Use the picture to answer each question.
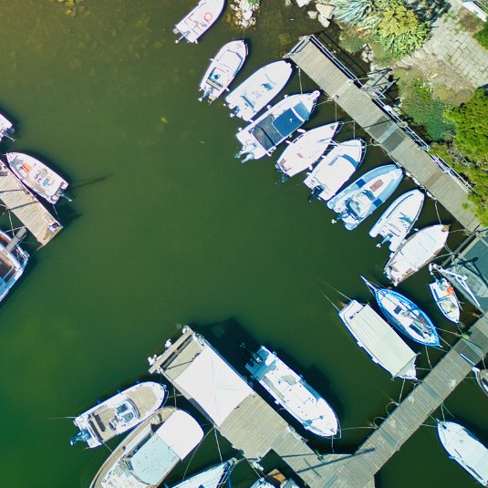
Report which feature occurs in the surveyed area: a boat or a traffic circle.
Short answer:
boat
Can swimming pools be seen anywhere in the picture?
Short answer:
No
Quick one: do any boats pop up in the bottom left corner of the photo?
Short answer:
Yes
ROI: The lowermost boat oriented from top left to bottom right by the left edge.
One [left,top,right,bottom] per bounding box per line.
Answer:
[7,153,69,203]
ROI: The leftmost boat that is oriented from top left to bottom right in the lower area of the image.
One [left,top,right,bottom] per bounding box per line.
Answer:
[235,337,342,439]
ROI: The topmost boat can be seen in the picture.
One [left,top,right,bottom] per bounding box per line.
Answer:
[175,0,226,44]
